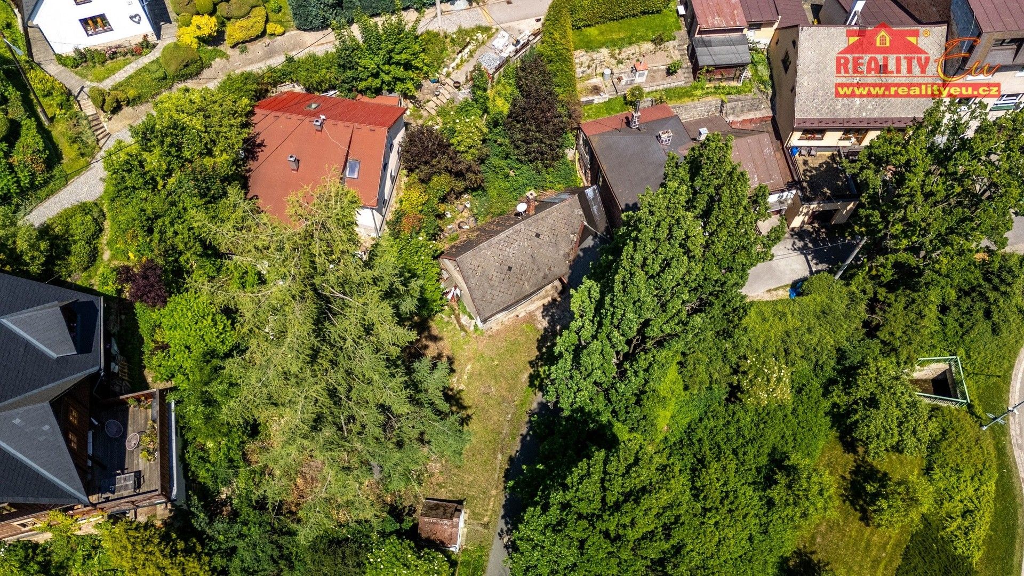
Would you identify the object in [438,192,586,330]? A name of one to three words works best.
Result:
house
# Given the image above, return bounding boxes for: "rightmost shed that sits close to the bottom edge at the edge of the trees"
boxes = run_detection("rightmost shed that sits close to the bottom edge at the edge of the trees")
[418,501,466,557]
